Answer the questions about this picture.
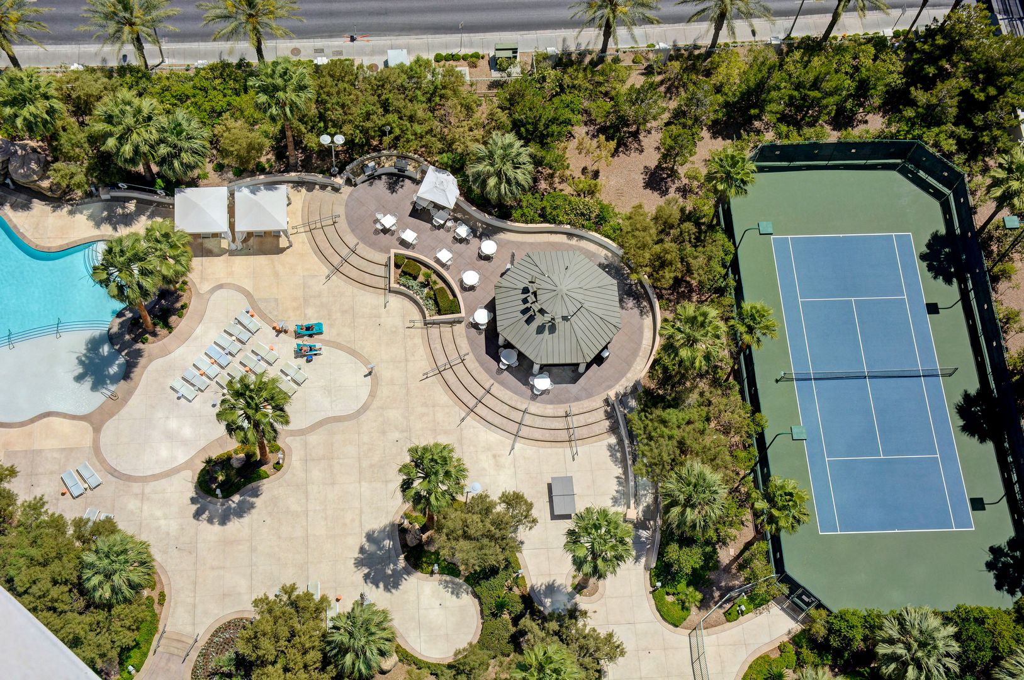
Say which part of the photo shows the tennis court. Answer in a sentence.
The tennis court is in the right part of the image.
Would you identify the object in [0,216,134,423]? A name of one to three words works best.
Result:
swimming pool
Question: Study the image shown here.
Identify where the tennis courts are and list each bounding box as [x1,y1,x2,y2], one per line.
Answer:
[711,159,1024,632]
